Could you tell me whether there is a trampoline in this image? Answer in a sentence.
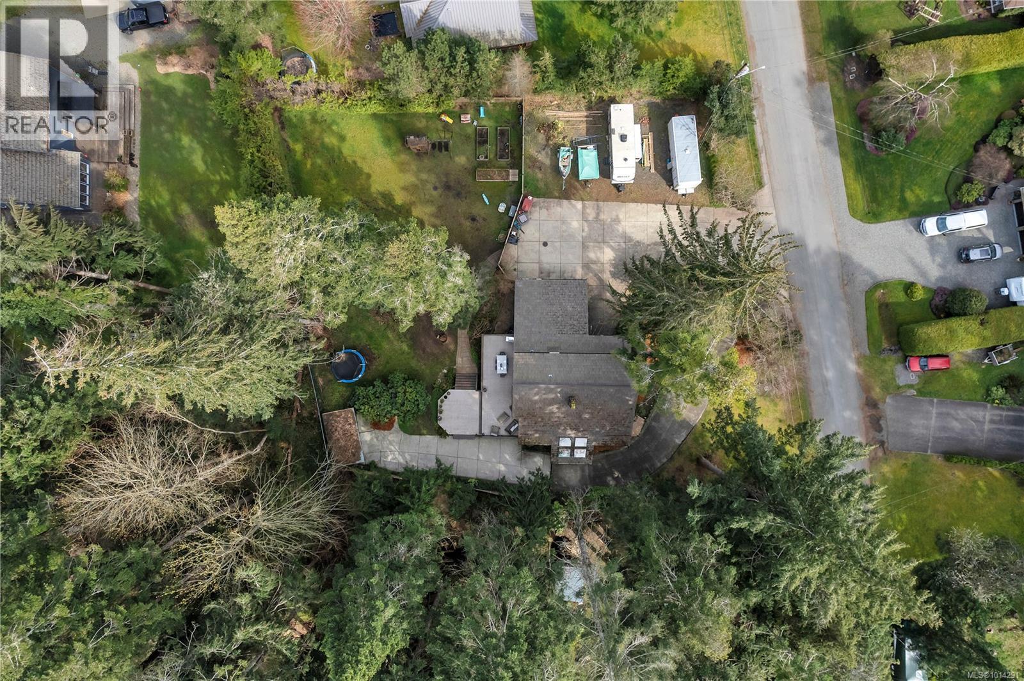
Yes, I can see a trampoline in this picture.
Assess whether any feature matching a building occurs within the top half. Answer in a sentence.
Yes, a building can be seen within the top half.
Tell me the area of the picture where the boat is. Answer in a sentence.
Look in the top portion of the view to spot the boat.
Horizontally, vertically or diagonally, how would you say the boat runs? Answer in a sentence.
The boat has been laid out vertically relative to the frame.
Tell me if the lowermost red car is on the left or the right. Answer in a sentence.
The lowermost red car is on the right side of the image.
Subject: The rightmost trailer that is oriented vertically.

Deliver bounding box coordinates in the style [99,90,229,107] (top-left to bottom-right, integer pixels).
[666,116,702,204]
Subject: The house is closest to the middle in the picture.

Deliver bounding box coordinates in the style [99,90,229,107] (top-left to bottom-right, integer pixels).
[511,277,644,465]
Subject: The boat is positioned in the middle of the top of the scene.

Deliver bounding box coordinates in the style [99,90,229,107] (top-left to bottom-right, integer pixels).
[555,143,576,188]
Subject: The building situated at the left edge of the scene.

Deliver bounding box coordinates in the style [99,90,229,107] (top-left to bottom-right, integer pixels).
[0,51,101,217]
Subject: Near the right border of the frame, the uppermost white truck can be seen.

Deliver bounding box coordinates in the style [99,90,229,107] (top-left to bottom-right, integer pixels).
[917,210,987,237]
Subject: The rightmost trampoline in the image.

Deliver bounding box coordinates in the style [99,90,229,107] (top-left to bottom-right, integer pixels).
[327,349,365,385]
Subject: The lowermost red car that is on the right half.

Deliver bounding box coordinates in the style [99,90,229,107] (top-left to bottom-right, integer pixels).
[903,353,951,375]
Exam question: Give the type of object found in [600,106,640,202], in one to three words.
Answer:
trailer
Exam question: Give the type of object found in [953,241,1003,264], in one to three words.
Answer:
car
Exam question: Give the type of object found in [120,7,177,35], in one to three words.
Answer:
truck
